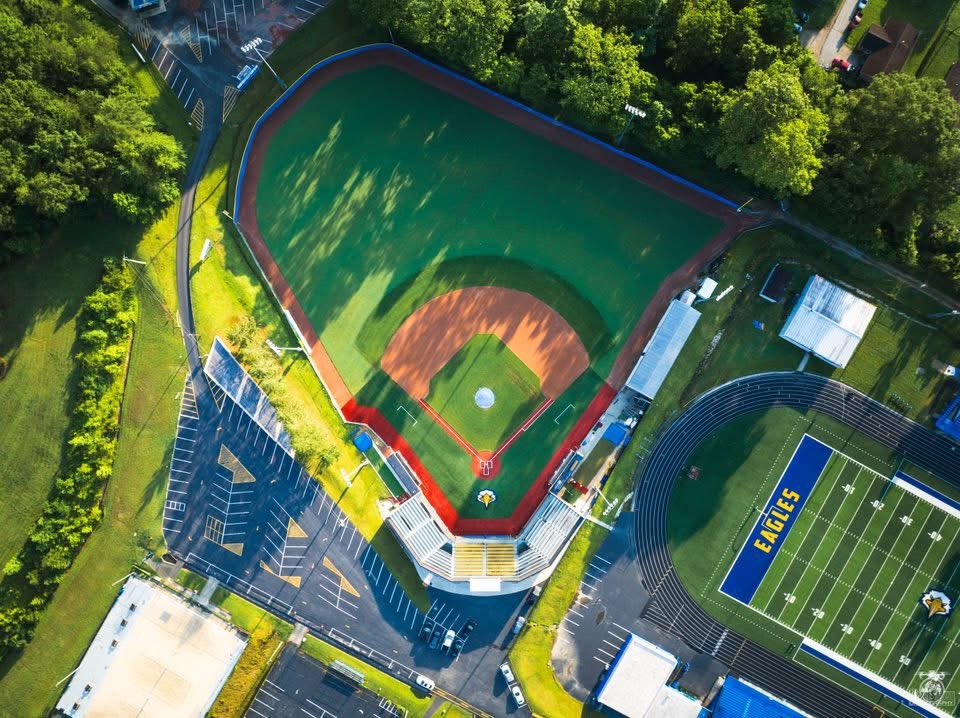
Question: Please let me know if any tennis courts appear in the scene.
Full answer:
No, the photo shows no tennis court.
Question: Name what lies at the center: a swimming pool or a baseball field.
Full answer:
There is a baseball field at the center.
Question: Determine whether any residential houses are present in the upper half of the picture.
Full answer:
Yes, in the upper half of the picture there is a residential house.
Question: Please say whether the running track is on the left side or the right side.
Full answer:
The running track sits on the right side.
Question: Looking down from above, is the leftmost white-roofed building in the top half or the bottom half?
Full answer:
The leftmost white-roofed building sits in the bottom half of the picture.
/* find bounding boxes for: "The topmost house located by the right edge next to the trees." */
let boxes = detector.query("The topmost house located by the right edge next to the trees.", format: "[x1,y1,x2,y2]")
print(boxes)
[852,18,921,77]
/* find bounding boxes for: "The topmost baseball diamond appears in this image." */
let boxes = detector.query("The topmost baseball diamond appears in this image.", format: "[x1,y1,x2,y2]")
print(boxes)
[236,47,747,535]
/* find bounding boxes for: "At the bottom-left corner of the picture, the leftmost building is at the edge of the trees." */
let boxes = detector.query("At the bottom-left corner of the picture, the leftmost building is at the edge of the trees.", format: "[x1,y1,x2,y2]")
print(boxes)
[51,570,255,718]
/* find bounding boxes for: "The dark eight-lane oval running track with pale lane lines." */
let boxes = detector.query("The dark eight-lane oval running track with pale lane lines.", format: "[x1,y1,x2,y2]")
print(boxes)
[629,369,960,718]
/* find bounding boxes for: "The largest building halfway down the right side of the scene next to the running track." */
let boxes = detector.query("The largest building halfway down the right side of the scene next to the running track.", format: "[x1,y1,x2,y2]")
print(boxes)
[774,276,877,367]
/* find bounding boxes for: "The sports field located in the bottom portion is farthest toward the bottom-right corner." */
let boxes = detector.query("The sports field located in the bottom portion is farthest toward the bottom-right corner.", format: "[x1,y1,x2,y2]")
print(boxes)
[666,406,960,718]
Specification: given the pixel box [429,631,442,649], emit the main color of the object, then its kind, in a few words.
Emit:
blue vehicle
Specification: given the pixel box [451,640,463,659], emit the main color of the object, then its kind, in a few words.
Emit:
blue vehicle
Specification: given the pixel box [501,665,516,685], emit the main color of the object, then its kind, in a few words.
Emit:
white car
